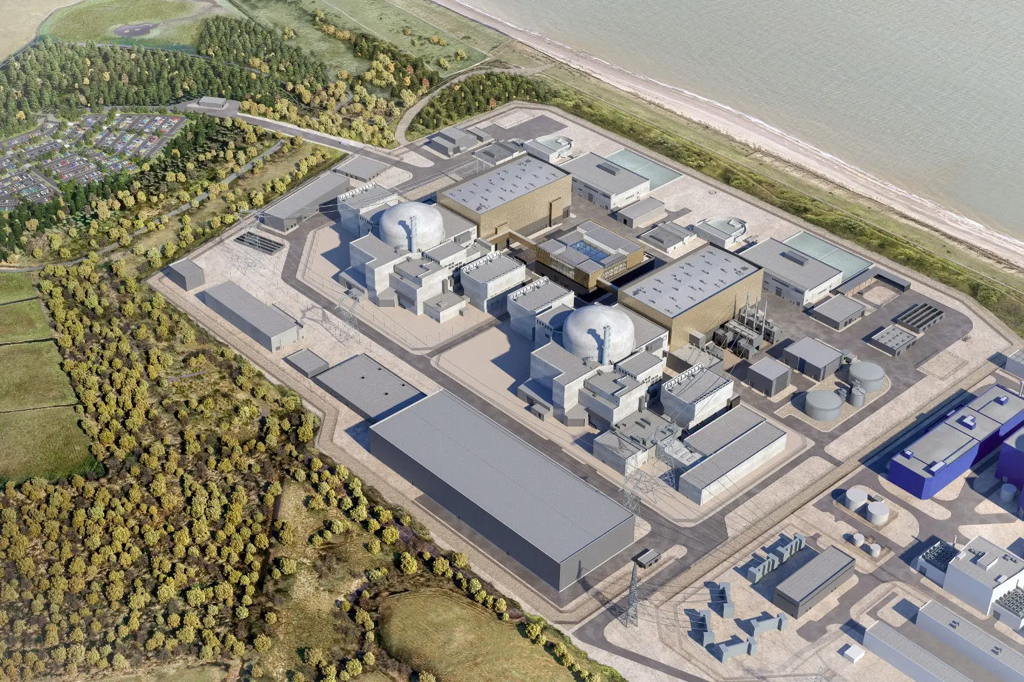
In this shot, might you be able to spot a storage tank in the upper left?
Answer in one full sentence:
No, looking in the upper left, there is no storage tank.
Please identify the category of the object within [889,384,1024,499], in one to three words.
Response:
building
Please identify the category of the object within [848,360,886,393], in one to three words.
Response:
storage tank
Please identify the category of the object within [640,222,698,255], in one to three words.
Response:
house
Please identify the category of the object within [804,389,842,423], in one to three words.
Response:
storage tank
